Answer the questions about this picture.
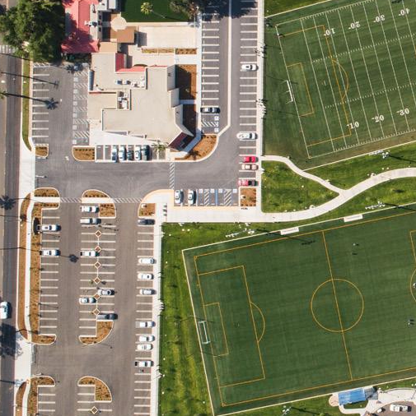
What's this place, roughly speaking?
sports ground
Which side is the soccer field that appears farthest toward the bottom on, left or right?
right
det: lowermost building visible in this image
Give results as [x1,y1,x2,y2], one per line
[87,52,191,150]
